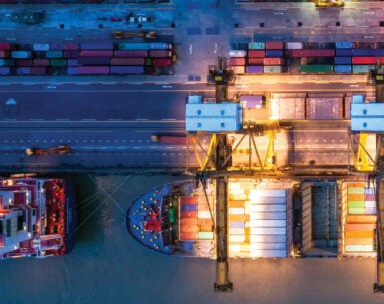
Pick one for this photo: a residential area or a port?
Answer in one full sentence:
It's a port.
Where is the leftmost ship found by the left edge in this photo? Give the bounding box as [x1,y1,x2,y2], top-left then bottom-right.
[0,172,76,258]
